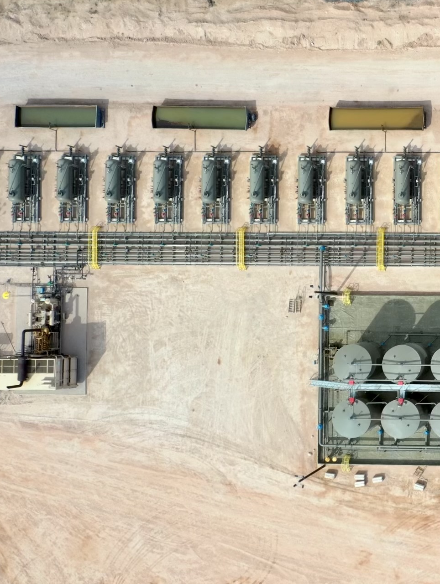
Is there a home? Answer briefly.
No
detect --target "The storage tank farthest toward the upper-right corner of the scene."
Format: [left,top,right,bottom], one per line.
[328,106,427,134]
